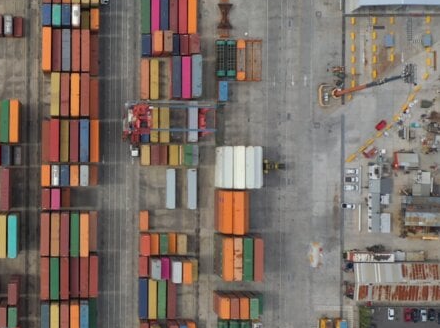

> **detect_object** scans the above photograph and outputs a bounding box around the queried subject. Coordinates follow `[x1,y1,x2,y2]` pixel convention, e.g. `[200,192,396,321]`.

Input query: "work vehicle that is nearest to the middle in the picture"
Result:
[262,158,288,172]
